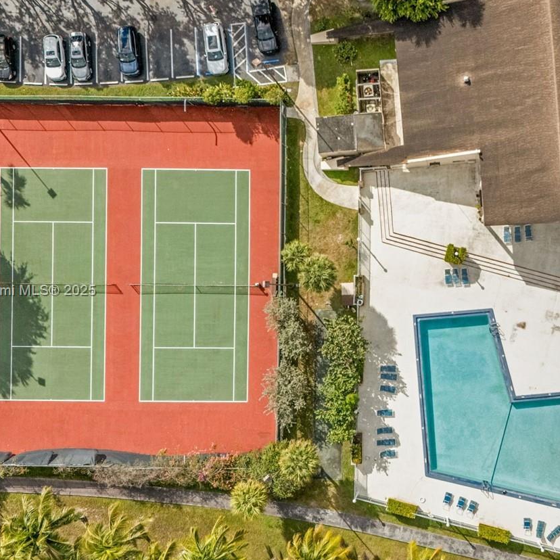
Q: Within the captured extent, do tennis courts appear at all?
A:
Yes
